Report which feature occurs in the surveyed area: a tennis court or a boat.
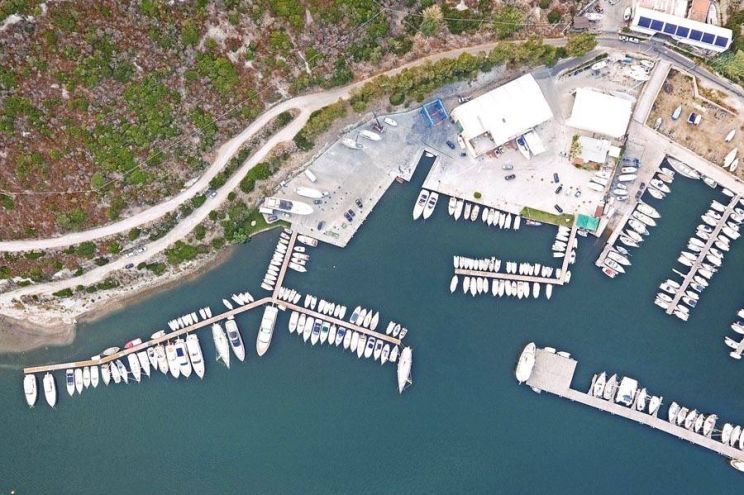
boat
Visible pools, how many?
0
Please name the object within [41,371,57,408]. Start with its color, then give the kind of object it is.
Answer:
white boat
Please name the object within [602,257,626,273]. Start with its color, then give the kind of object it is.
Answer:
white boat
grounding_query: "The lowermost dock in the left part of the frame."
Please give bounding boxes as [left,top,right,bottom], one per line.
[23,230,401,374]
